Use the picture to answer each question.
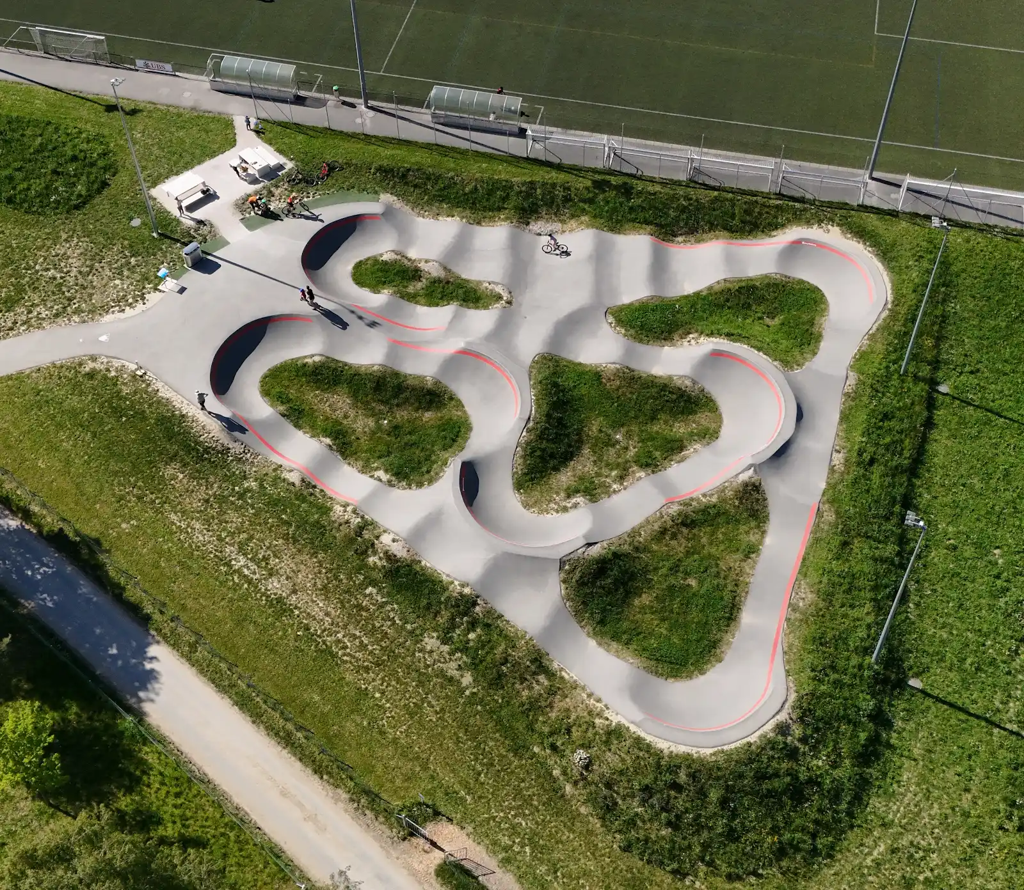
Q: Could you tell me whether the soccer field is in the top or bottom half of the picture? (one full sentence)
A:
The soccer field sits in the top half of the picture.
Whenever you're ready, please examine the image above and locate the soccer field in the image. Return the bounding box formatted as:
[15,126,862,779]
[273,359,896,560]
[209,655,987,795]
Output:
[0,0,1024,193]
